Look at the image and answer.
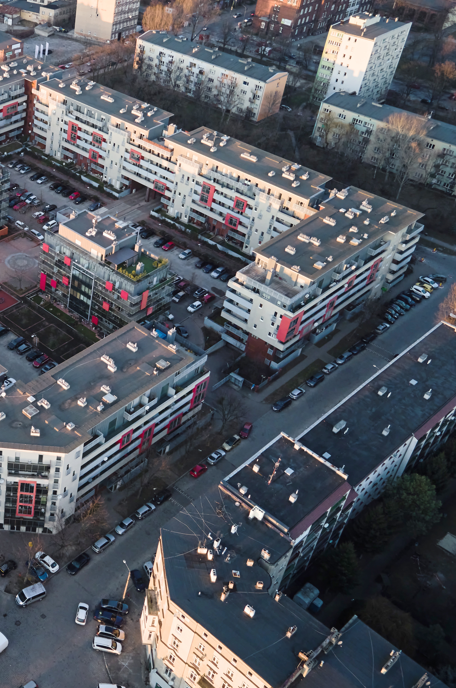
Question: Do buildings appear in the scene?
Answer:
Yes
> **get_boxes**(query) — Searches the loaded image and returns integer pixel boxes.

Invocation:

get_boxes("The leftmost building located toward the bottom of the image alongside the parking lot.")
[0,322,196,535]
